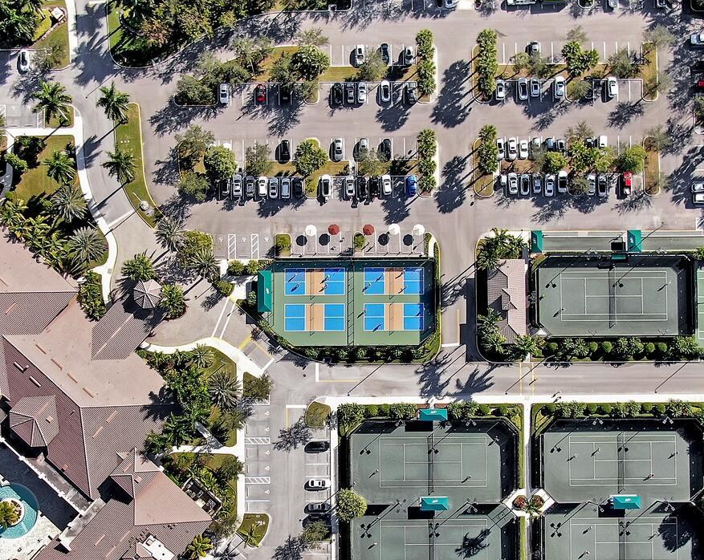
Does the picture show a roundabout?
No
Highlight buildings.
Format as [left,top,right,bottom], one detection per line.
[0,220,212,560]
[487,259,526,335]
